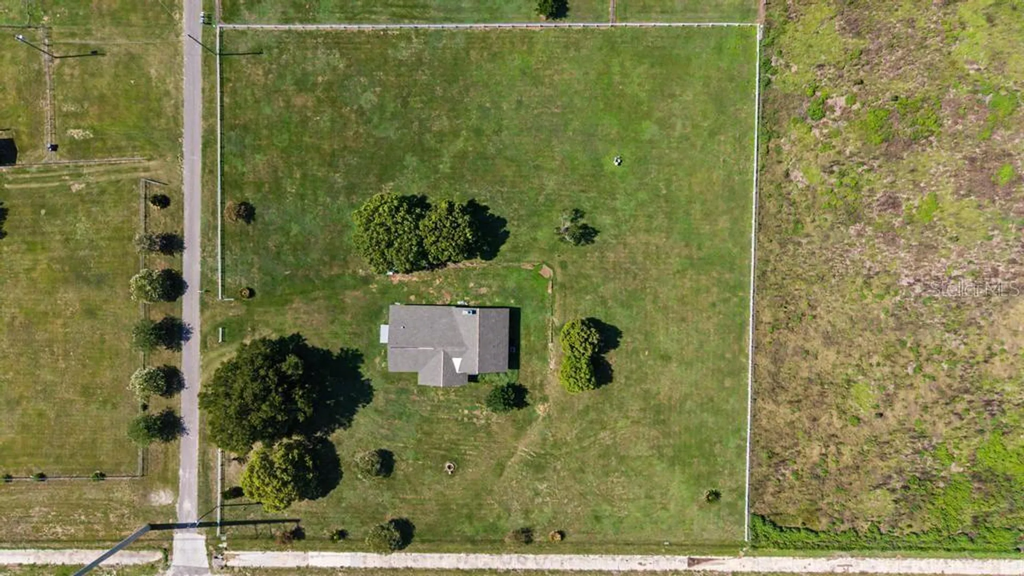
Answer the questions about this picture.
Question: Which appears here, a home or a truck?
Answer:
home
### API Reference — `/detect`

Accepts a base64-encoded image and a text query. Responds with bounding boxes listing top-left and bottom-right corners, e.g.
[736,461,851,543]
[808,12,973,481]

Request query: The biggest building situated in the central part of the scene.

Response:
[380,304,509,387]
